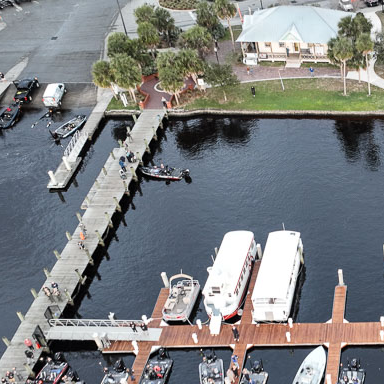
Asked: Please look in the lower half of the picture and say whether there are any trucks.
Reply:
No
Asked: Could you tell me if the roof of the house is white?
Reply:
Yes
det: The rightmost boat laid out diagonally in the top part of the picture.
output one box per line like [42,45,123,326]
[52,113,87,140]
